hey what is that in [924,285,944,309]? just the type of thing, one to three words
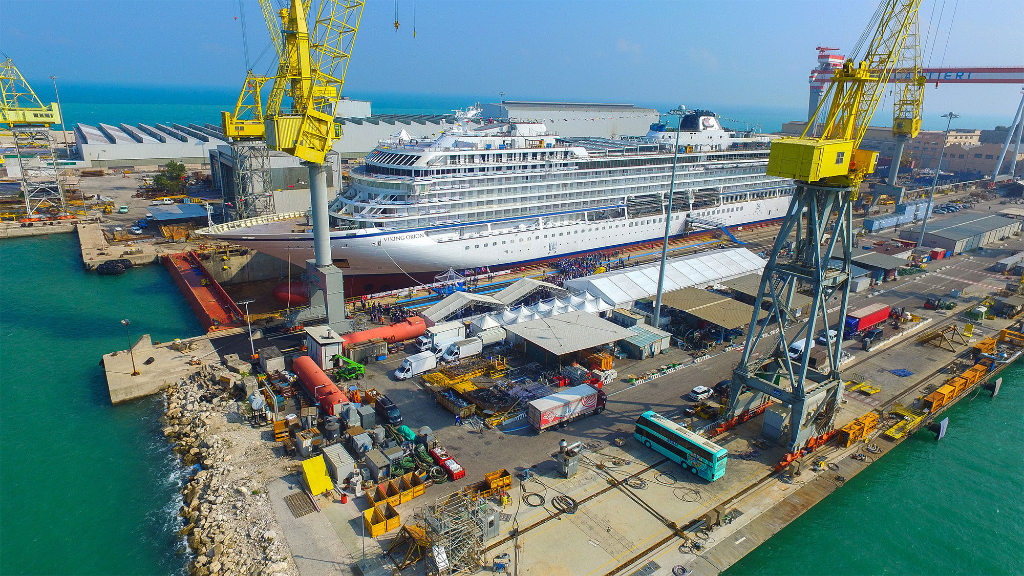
work vehicle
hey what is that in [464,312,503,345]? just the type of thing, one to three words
tent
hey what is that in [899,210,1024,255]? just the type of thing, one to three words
shed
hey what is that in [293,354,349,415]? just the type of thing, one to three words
storage tank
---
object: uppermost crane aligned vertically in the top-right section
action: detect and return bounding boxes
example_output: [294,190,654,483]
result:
[867,0,948,204]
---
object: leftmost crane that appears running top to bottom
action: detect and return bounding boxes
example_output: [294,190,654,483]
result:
[0,56,79,222]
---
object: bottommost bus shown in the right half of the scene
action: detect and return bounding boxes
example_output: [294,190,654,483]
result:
[632,410,730,481]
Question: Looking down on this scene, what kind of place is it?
port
